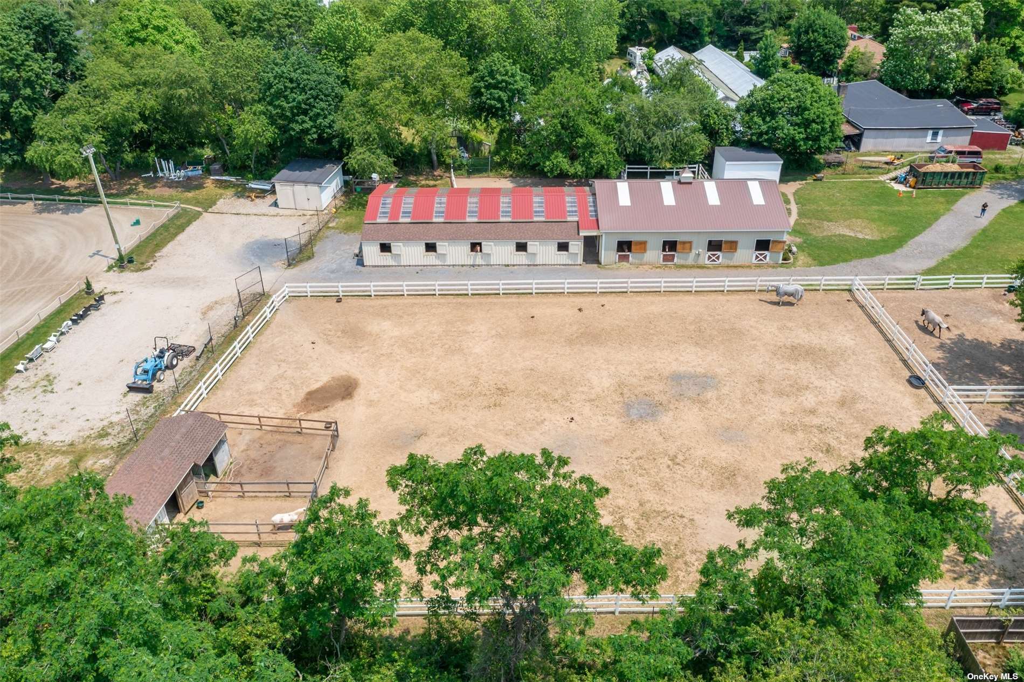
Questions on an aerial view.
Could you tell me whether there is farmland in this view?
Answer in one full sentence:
Yes, there is farmland in the image.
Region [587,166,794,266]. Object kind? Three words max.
building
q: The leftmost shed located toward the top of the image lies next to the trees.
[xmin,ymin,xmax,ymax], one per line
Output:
[271,151,346,210]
